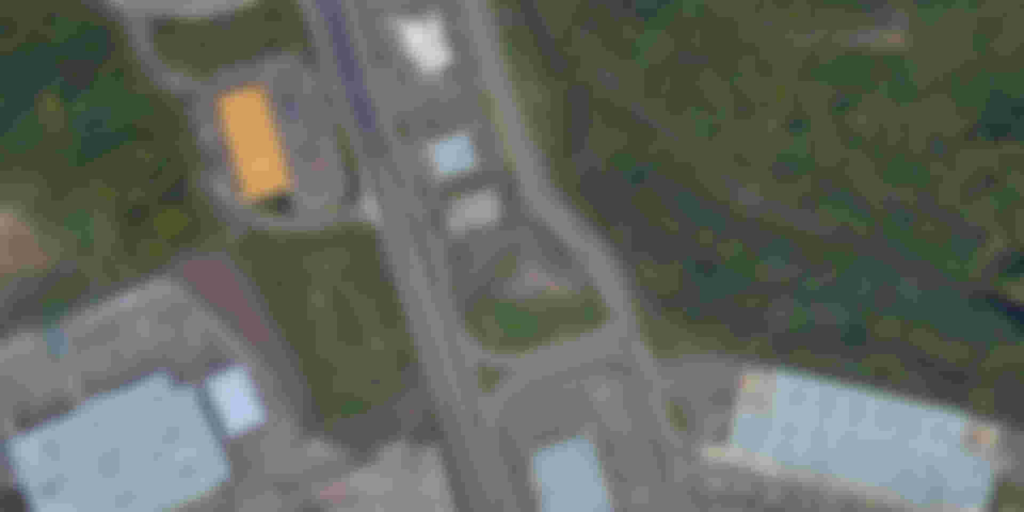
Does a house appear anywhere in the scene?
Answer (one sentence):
Yes, a house is visible in the scene.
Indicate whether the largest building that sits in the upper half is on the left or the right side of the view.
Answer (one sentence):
The largest building that sits in the upper half is on the left side of the image.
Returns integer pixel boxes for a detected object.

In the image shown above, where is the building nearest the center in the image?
[449,190,503,233]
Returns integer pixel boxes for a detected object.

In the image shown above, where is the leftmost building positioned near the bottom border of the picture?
[7,370,233,512]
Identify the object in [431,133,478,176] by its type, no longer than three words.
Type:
house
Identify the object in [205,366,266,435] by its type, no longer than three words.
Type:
building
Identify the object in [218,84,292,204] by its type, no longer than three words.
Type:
building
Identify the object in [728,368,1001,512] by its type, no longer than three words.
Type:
warehouse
